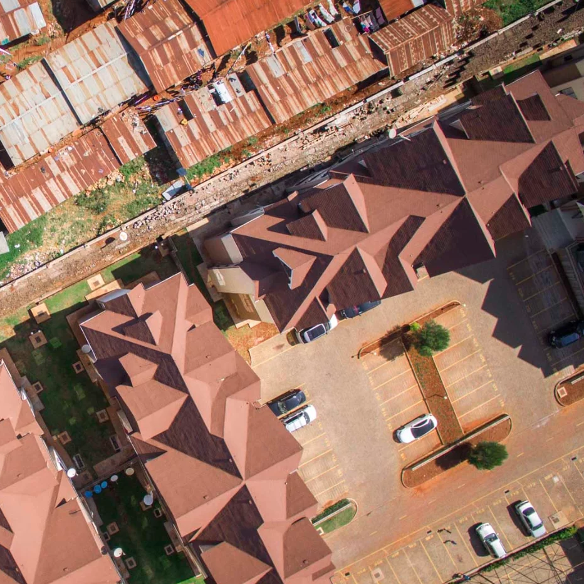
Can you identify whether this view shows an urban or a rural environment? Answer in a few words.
urban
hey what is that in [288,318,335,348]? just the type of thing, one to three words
car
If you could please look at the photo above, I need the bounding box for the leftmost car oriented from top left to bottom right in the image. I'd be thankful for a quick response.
[474,518,509,561]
